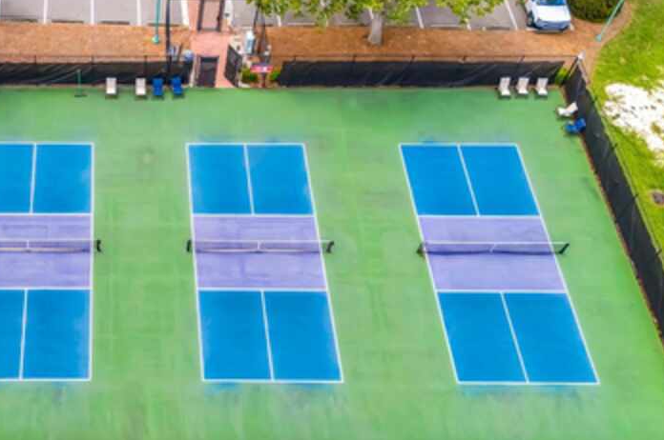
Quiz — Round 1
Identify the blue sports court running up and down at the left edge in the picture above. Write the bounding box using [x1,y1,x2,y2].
[0,141,94,382]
